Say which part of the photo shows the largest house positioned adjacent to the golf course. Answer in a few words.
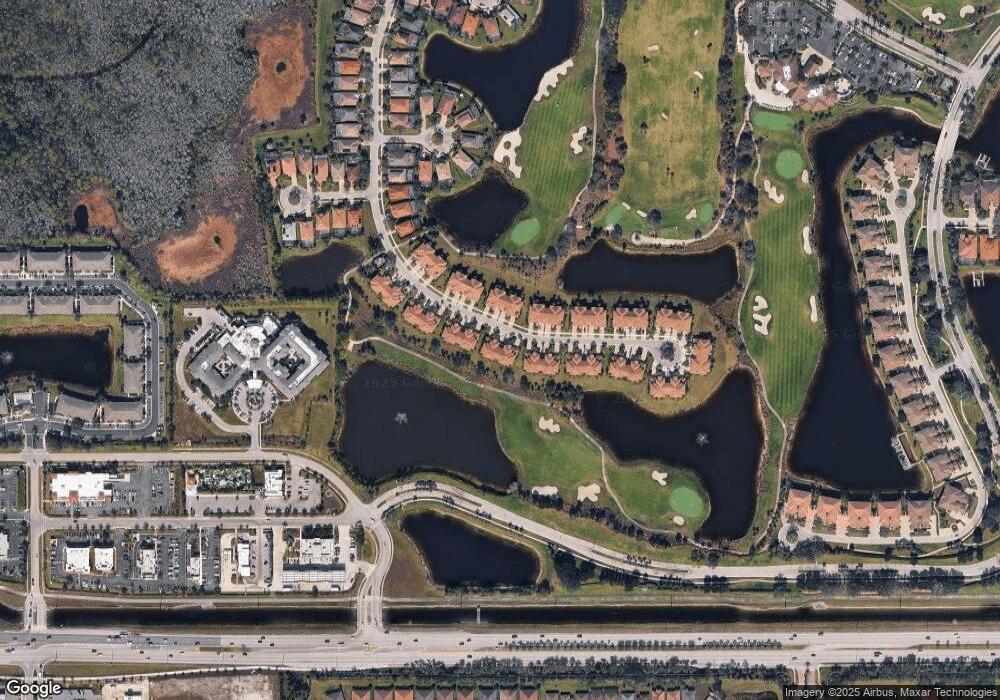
left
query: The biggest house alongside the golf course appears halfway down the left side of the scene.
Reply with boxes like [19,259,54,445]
[187,307,329,400]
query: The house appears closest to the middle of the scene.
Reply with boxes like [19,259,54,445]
[480,340,518,364]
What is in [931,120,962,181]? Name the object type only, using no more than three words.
bridge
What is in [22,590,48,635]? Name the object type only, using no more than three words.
bridge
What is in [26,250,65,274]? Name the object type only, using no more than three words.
building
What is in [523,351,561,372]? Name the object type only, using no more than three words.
house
